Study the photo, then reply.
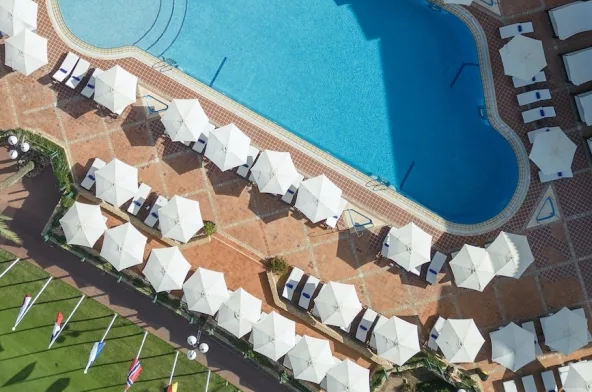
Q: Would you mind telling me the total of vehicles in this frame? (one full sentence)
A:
The photo contains no vehicles.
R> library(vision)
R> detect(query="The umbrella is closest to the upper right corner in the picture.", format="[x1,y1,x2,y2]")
[500,34,545,82]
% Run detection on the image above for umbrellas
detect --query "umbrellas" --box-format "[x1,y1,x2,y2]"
[183,268,229,315]
[529,127,576,174]
[562,360,592,392]
[449,244,496,291]
[296,175,342,223]
[388,222,432,271]
[541,307,585,355]
[206,124,252,171]
[315,280,362,328]
[252,312,295,361]
[0,0,39,36]
[161,100,209,142]
[143,246,191,291]
[326,359,369,392]
[375,316,419,365]
[287,337,334,384]
[61,201,107,247]
[95,158,138,206]
[218,290,261,338]
[500,34,545,82]
[101,222,147,270]
[435,318,484,361]
[251,150,299,194]
[491,321,534,371]
[487,232,535,278]
[95,65,138,113]
[4,29,47,76]
[158,195,203,243]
